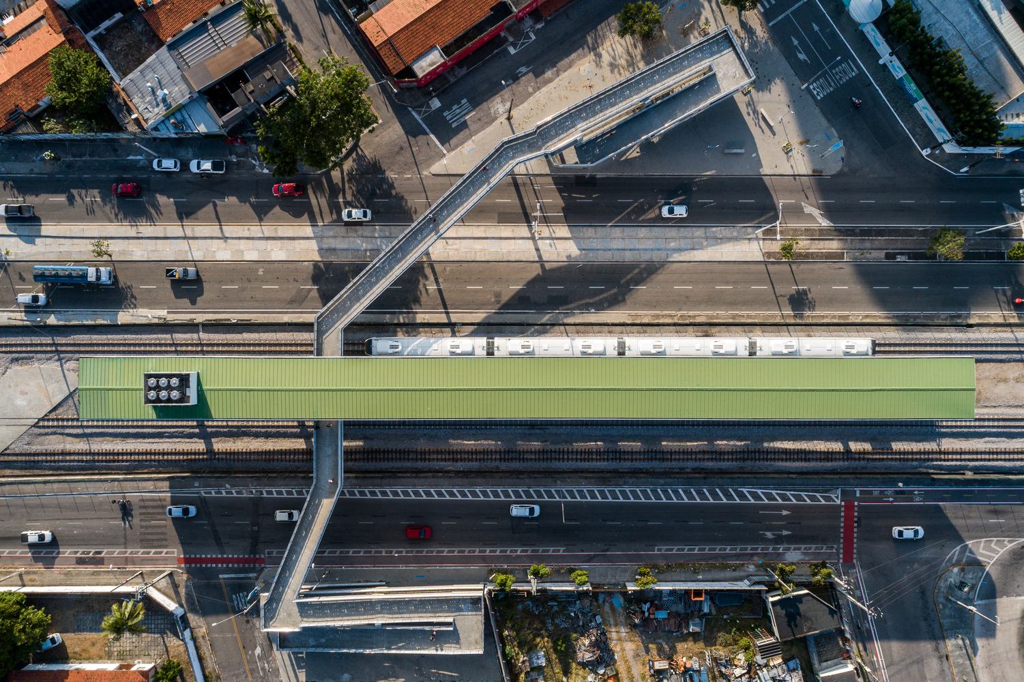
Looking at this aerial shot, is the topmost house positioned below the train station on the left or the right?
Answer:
right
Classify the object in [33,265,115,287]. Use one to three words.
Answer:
truck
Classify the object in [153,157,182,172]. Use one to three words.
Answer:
car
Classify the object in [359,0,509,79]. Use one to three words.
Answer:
house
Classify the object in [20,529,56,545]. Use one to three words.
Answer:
vehicle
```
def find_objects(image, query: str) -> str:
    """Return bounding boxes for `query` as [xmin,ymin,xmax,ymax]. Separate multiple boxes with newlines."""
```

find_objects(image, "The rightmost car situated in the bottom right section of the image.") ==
[890,525,923,540]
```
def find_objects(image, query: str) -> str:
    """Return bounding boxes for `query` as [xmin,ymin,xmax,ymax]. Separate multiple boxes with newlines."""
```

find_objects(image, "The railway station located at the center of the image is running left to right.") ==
[77,356,978,421]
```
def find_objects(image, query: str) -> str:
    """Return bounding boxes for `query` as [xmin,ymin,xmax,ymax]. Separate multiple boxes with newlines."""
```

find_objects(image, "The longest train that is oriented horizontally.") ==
[372,339,871,356]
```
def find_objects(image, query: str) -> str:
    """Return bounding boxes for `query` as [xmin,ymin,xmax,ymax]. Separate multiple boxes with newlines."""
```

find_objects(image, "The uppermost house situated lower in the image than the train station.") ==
[760,583,842,642]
